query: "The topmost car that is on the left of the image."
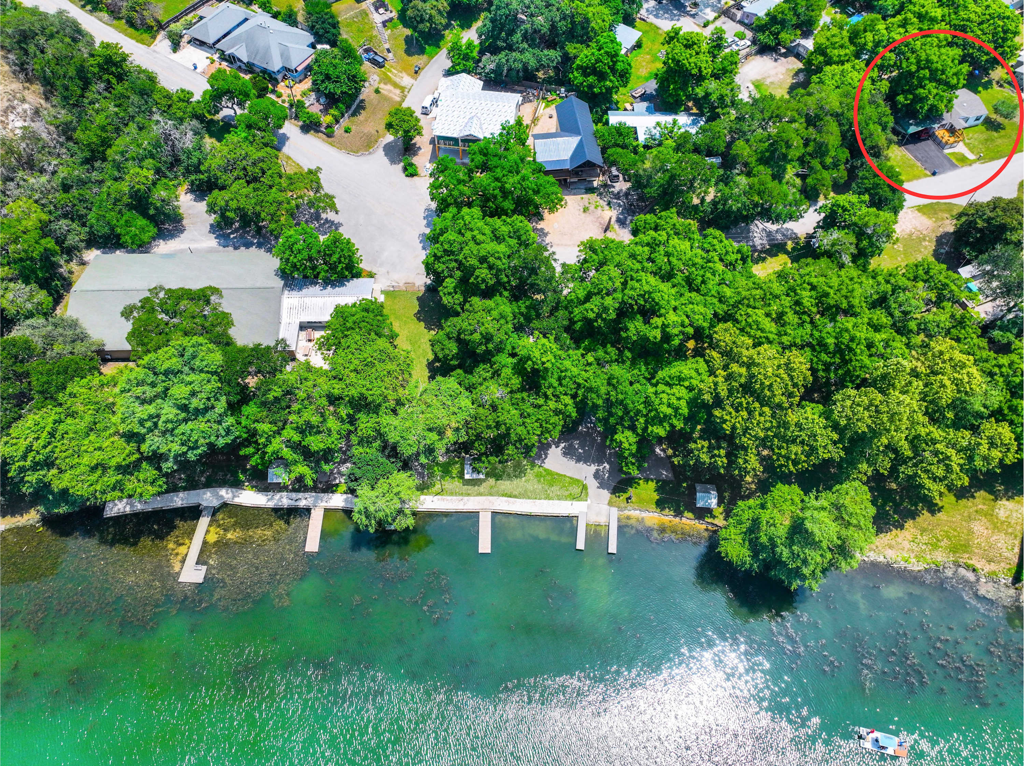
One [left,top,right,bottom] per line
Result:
[365,51,389,68]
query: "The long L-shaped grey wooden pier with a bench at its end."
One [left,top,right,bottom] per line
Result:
[178,507,217,584]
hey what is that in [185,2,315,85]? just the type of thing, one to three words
house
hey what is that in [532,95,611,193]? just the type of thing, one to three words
house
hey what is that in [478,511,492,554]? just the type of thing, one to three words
pier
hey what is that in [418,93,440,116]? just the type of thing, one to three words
vehicle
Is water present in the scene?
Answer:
Yes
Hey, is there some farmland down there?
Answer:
No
